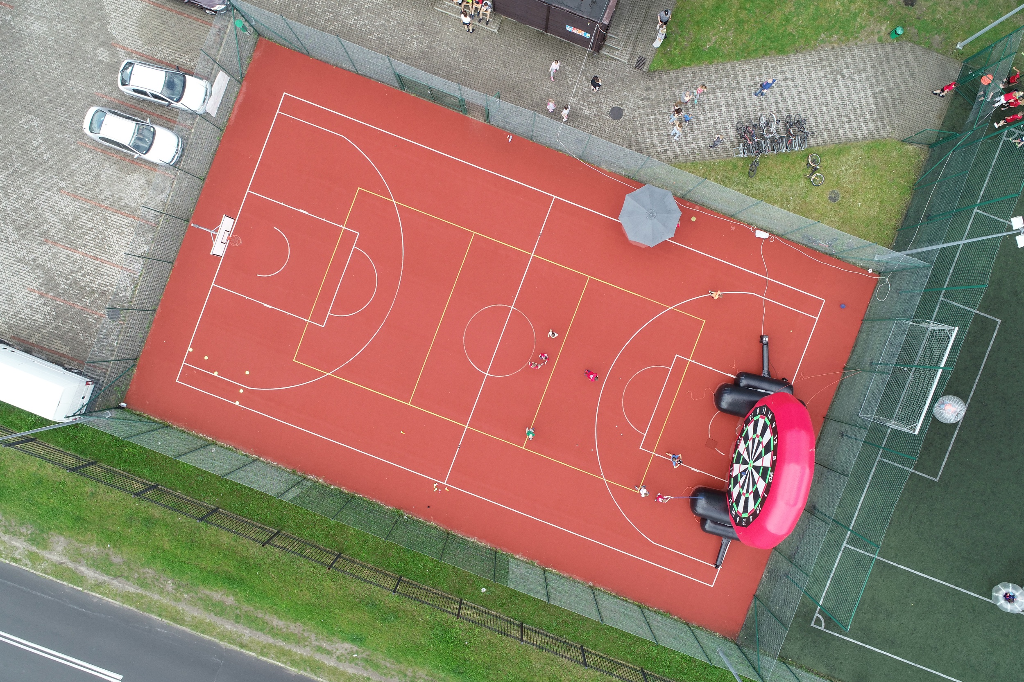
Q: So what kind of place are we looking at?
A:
sports ground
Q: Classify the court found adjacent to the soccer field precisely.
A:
basketball court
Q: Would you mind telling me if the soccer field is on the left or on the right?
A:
right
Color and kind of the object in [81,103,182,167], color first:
white car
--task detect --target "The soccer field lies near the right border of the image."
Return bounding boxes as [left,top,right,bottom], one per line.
[735,0,1024,682]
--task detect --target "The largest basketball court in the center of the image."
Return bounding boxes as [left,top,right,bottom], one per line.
[122,36,880,640]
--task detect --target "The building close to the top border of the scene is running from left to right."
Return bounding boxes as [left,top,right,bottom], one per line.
[493,0,620,54]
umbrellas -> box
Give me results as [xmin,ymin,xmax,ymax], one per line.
[618,184,682,248]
